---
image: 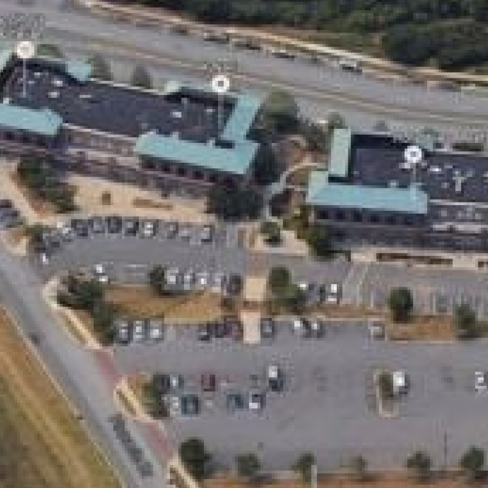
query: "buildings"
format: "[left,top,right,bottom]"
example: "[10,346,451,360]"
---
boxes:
[308,127,488,256]
[0,50,270,201]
